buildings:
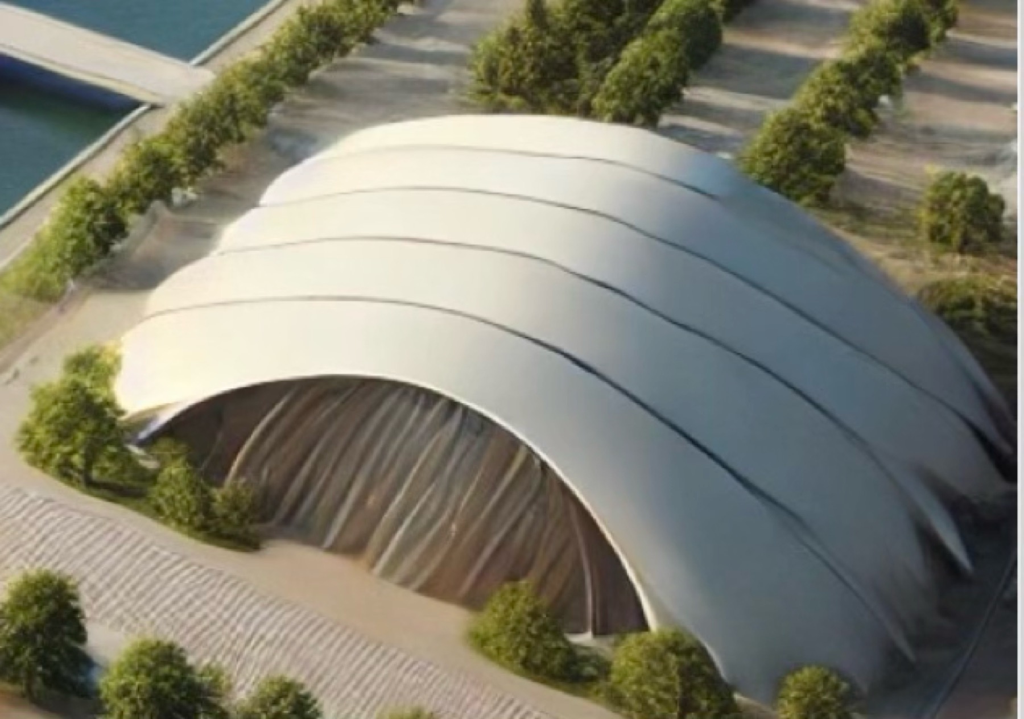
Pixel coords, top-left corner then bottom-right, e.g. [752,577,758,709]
[112,114,1009,678]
